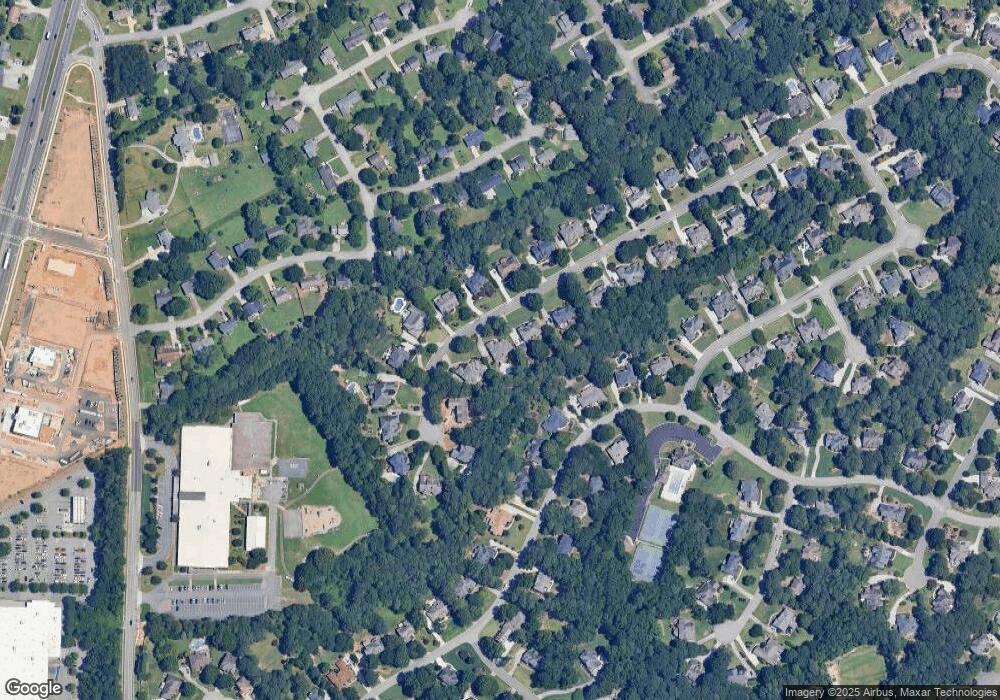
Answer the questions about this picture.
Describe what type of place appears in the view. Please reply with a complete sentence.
This looks like a residential area.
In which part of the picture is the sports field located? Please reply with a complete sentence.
The sports field is located in the bottom right region of the scene.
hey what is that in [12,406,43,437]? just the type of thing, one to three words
building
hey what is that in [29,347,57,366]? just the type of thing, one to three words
building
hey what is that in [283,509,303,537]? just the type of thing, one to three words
sports court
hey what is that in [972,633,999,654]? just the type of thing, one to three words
house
